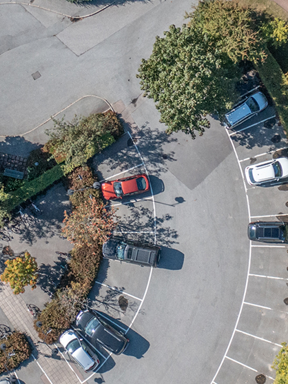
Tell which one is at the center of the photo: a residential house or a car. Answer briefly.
car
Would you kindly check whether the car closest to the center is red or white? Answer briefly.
red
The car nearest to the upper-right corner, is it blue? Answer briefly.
Yes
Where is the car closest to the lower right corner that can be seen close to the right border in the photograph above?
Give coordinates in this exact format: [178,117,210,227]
[247,221,288,246]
